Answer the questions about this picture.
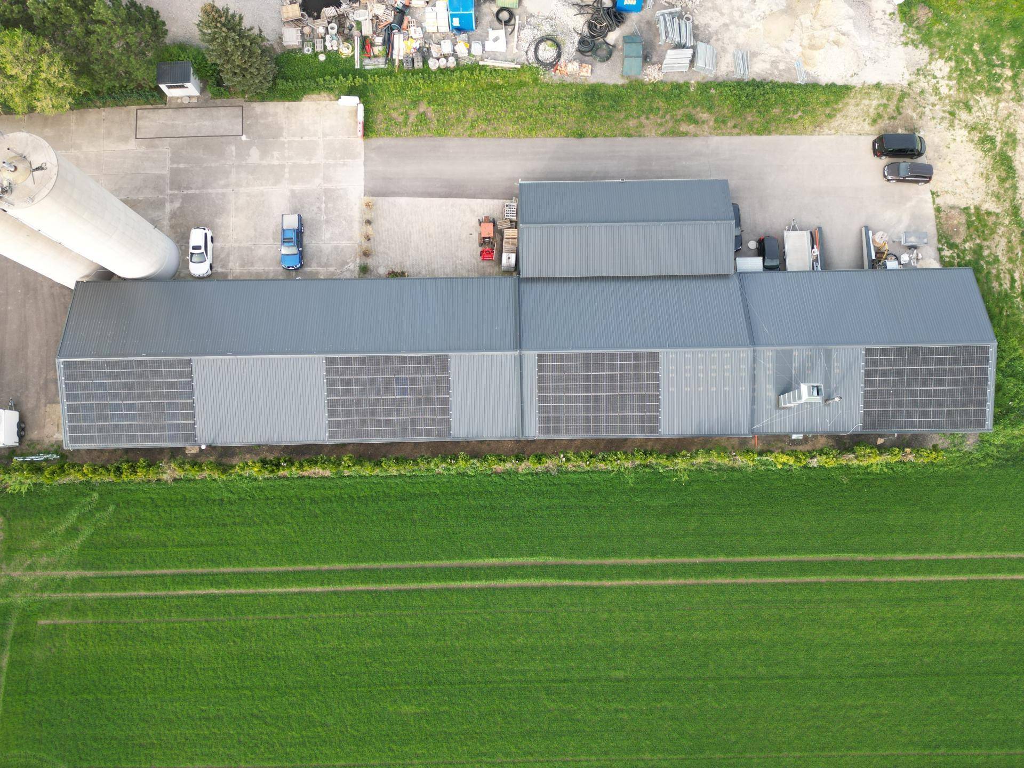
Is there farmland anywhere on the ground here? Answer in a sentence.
Yes, there's farmland in this view.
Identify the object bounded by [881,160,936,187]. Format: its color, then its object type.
gray car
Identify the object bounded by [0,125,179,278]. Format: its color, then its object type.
white silo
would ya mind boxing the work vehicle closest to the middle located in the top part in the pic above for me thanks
[478,215,496,255]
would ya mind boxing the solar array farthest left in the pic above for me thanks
[57,357,197,446]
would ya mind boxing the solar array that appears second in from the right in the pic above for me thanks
[535,349,663,438]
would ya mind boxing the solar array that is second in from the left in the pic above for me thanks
[322,352,453,442]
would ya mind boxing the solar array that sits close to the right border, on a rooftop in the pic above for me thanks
[862,343,995,431]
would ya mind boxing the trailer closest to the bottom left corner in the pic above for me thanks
[0,395,24,445]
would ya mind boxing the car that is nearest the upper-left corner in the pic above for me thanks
[187,225,214,276]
